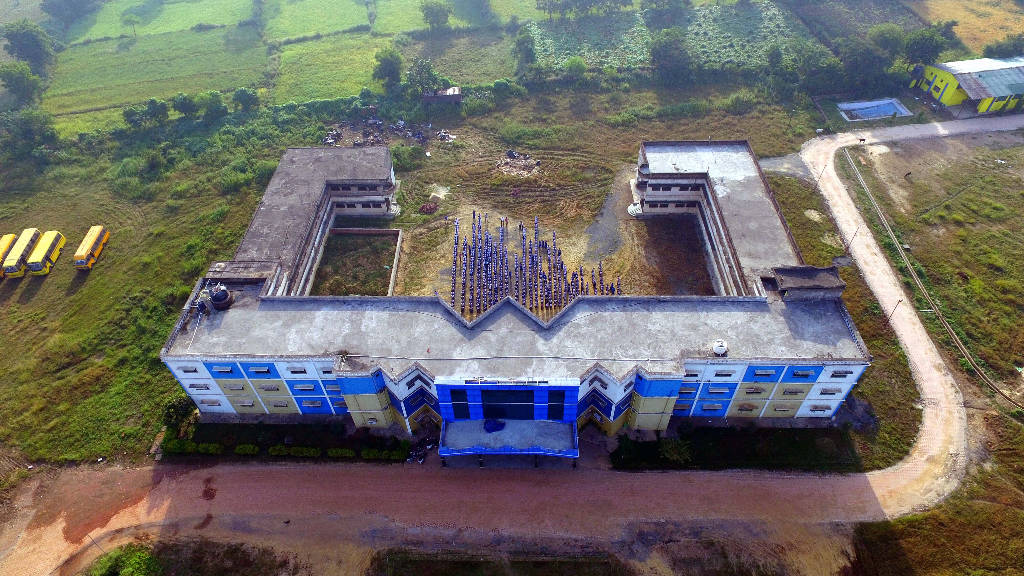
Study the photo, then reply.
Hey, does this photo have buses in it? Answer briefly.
Yes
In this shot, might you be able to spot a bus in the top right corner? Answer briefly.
No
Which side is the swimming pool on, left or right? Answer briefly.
right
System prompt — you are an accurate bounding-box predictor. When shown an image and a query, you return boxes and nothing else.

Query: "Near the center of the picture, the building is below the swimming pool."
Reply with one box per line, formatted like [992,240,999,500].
[160,135,872,471]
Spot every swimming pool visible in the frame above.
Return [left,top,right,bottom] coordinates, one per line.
[839,99,913,122]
